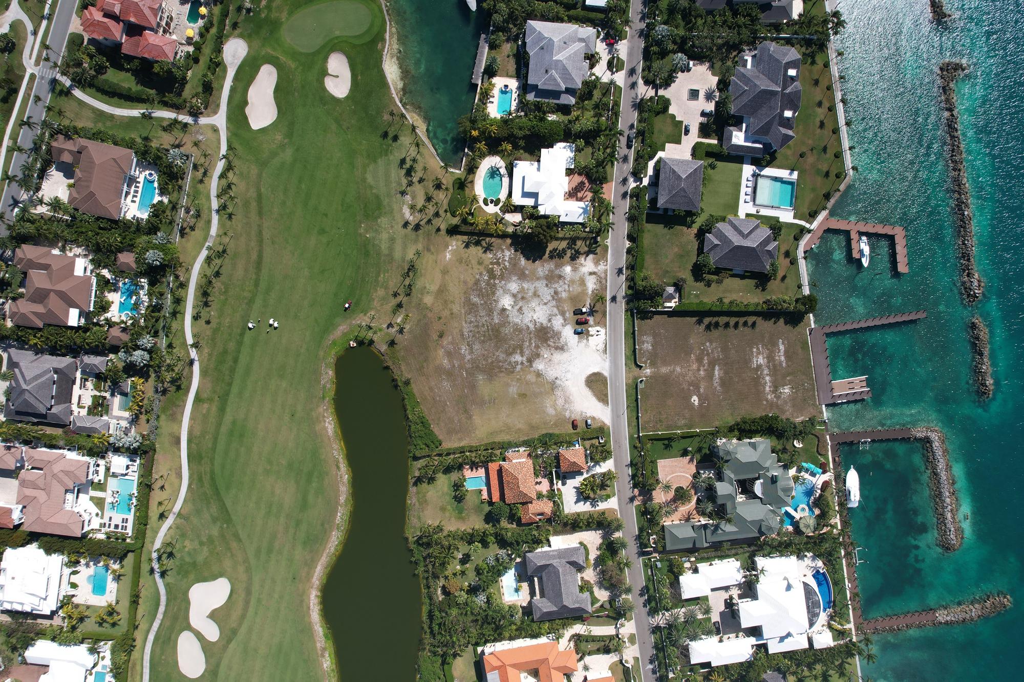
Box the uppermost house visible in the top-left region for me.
[80,0,187,64]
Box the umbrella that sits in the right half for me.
[799,516,816,532]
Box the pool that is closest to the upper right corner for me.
[753,176,798,209]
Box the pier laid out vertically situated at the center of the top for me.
[472,34,488,84]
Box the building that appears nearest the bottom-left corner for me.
[24,637,100,682]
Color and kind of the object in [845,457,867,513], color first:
white boat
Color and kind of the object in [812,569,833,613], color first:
blue swimming pool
